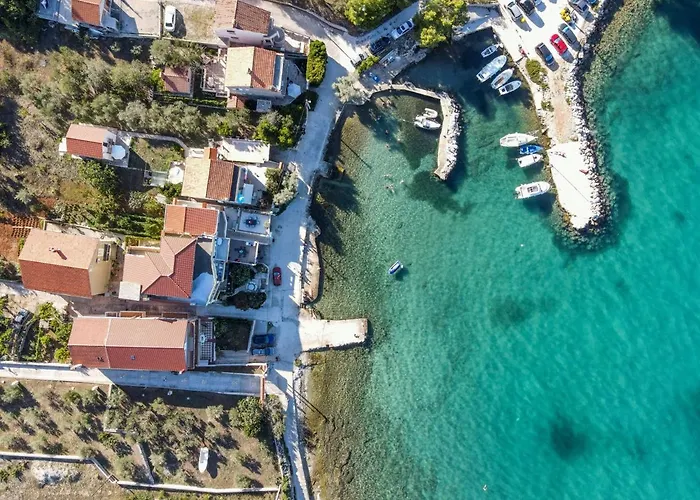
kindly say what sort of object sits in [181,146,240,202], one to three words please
house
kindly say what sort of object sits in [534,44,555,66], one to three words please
car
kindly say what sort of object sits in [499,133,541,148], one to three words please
boat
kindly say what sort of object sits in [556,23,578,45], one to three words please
car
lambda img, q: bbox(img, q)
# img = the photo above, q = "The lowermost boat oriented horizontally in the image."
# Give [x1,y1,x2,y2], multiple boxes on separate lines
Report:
[513,181,555,198]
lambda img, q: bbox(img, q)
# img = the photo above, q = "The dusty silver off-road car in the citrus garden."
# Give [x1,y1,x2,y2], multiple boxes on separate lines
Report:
[9,305,33,328]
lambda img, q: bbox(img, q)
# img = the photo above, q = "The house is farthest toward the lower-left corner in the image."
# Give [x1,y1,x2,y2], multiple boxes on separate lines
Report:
[68,316,122,368]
